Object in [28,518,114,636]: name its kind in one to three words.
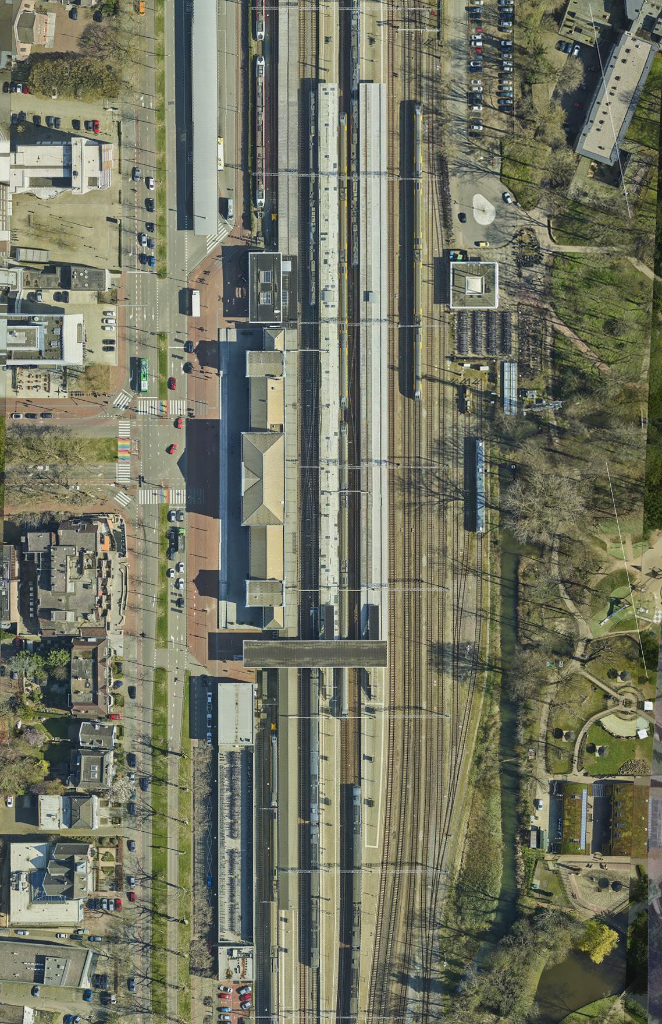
building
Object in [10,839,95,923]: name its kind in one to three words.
house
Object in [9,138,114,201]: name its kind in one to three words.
building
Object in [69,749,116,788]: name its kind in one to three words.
house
